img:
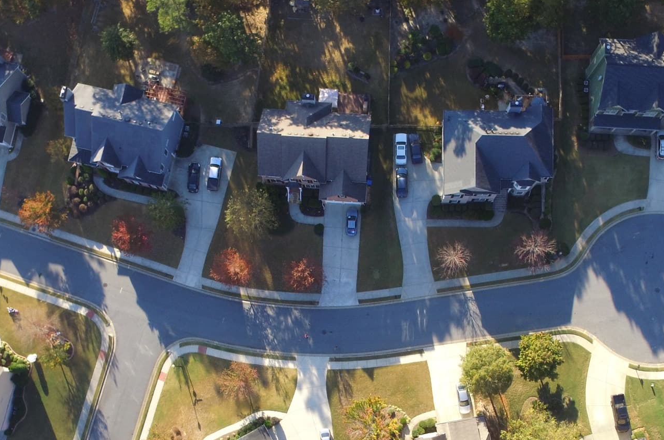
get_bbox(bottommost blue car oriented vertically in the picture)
[345,207,359,238]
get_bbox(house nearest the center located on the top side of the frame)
[256,92,372,208]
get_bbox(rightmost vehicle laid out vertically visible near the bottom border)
[611,394,630,432]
